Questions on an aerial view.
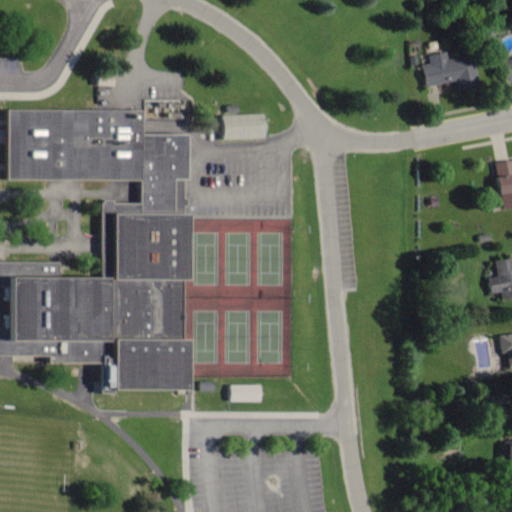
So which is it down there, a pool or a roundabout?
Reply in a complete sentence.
This aerial view contains a pool.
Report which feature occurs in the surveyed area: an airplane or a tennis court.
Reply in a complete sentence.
The one in the frame is a tennis court.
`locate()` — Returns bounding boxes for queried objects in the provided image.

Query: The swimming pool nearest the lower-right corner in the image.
[469,335,500,378]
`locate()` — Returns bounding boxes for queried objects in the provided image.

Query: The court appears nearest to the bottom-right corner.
[258,310,282,364]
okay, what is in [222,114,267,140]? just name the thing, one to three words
building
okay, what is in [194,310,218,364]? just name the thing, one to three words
tennis court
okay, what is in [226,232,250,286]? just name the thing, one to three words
tennis court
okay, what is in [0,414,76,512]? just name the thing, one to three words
soccer field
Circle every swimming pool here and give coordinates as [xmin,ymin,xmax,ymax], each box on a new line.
[500,33,512,54]
[469,335,500,378]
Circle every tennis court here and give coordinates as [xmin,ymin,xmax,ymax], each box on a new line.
[226,310,250,364]
[226,232,250,286]
[258,232,282,286]
[194,310,218,364]
[258,310,282,364]
[194,232,218,286]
